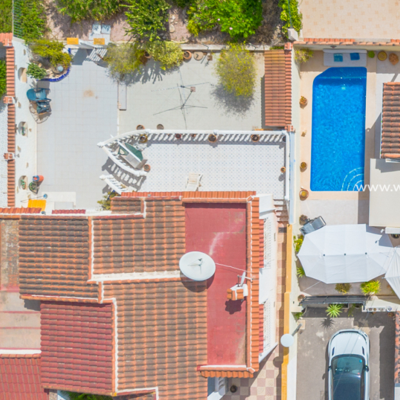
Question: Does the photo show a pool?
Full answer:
Yes, the photo shows a pool.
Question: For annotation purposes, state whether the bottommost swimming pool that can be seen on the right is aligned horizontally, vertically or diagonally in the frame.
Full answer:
The bottommost swimming pool that can be seen on the right is laid out vertically.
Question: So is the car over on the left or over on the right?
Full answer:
The car is on the right side of the image.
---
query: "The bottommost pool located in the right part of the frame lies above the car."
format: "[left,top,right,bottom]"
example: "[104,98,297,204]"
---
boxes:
[311,67,366,191]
